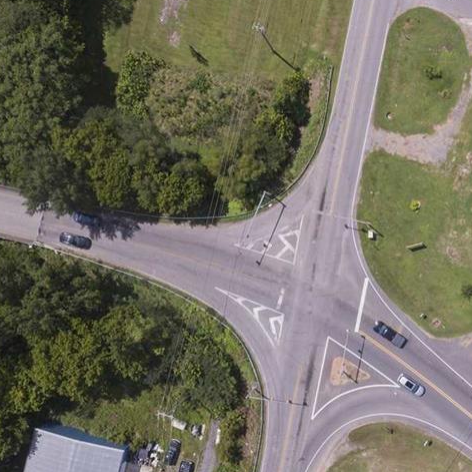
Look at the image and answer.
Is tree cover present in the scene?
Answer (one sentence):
Yes, there's tree cover in this view.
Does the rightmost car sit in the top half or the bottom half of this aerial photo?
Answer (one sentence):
The rightmost car sits in the bottom half of the picture.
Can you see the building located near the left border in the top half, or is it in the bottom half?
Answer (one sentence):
The bottom half of the photo is where the building located near the left border is.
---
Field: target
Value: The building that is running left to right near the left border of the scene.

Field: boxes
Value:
[23,423,130,472]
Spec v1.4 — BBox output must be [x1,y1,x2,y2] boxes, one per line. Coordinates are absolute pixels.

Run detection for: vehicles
[166,435,183,465]
[61,232,93,248]
[373,320,408,349]
[175,457,190,472]
[396,371,426,395]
